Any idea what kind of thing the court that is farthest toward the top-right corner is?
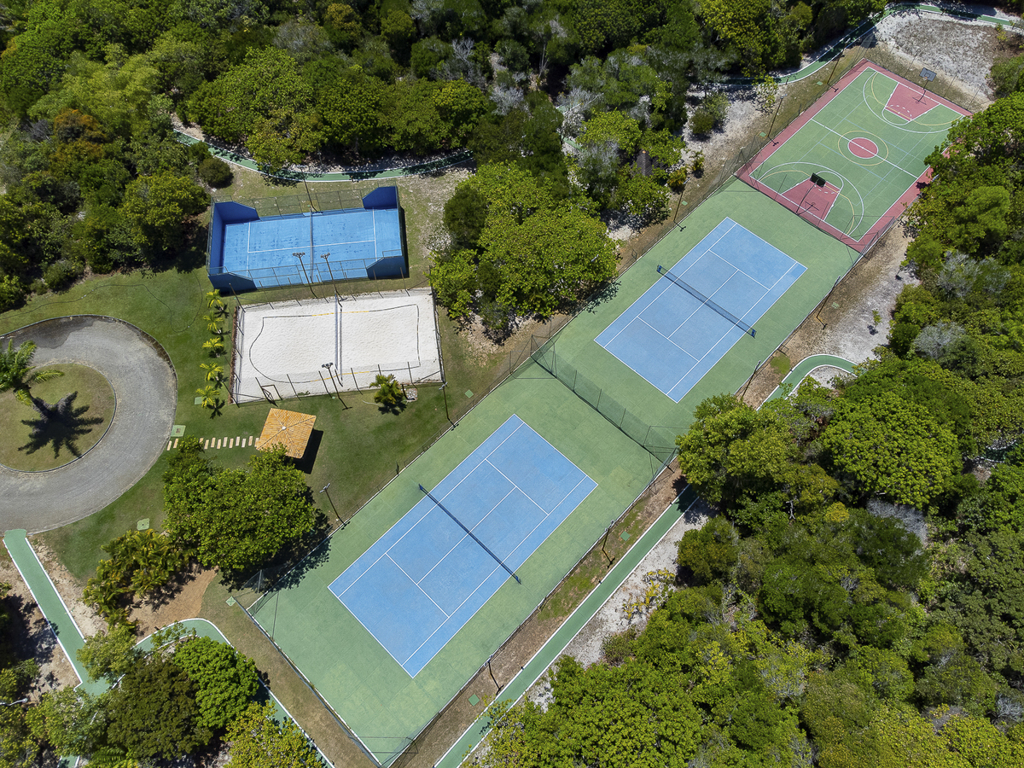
basketball court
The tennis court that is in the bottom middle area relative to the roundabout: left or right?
to the right of it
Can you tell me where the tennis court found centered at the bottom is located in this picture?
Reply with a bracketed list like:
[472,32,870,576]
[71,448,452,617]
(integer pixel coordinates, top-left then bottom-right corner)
[246,355,668,768]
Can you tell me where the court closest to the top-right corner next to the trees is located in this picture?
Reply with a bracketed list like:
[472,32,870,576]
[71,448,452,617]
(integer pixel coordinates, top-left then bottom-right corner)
[734,57,979,252]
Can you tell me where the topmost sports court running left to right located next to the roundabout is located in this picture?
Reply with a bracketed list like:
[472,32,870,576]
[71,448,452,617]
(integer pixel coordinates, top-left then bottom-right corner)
[205,182,403,293]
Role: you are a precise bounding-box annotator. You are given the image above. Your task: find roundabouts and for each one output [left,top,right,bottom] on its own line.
[0,313,178,536]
